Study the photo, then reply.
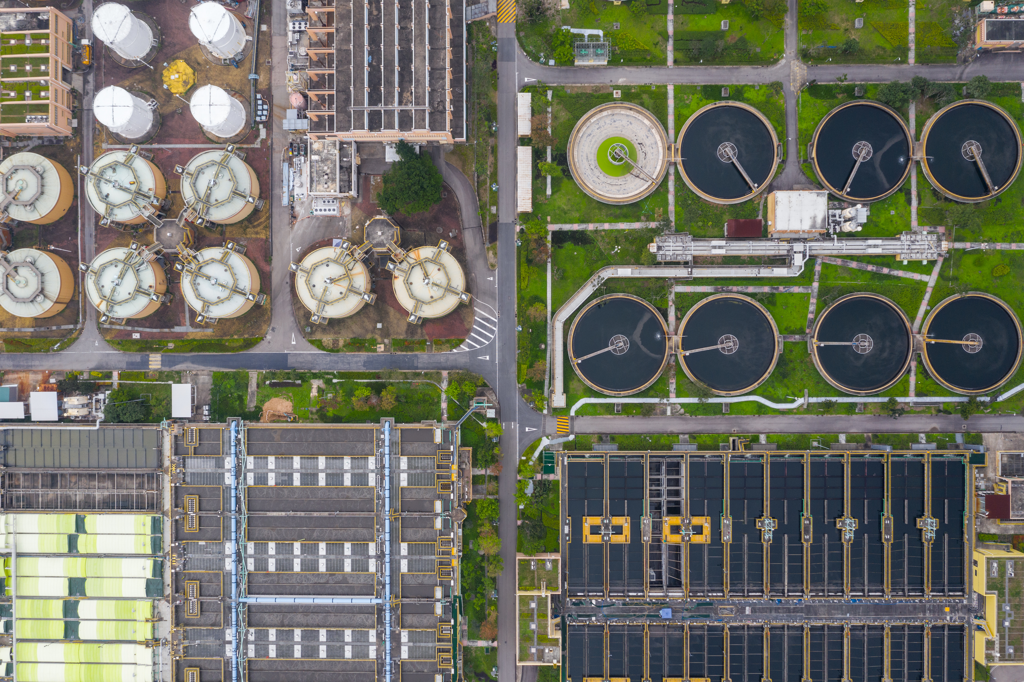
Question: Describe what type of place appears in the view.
industrial area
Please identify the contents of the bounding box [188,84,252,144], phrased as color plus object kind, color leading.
white storage tank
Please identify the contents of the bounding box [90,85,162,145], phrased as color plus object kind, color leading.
white storage tank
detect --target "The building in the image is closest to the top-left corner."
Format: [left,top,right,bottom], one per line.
[0,7,75,135]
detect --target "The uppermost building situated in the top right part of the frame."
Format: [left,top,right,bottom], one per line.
[973,19,1024,53]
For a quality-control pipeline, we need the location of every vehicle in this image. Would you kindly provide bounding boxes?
[68,37,91,72]
[282,409,296,420]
